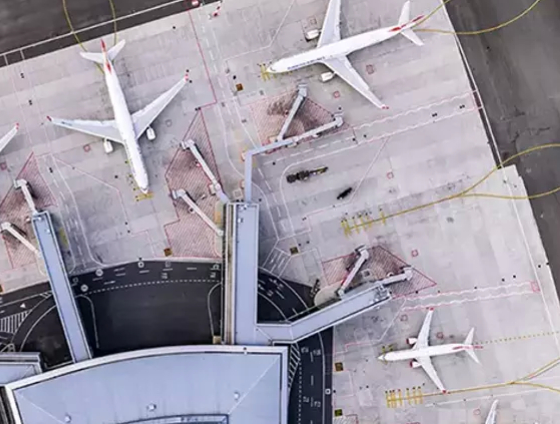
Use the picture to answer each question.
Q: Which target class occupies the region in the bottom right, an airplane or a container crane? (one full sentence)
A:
The feature located in the bottom right is an airplane.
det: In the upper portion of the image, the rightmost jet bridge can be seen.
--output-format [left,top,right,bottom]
[294,115,342,145]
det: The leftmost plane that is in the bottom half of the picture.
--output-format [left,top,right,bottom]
[380,309,482,392]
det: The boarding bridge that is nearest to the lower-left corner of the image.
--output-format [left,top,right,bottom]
[0,223,42,258]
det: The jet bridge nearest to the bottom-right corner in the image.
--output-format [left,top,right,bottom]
[376,266,413,285]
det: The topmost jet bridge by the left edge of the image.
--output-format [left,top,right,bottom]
[14,178,41,215]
